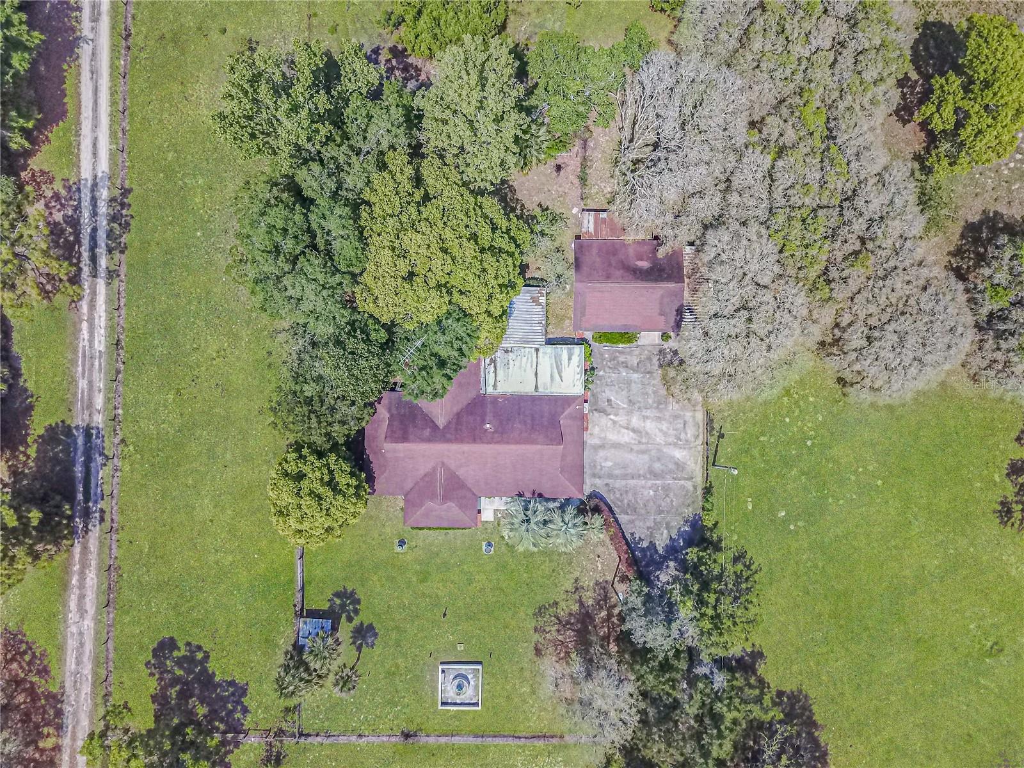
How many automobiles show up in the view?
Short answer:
zero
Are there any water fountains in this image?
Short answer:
Yes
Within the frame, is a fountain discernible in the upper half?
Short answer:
No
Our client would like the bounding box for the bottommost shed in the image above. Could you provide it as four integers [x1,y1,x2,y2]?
[299,613,335,646]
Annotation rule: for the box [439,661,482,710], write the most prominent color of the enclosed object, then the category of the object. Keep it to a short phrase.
white fountain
